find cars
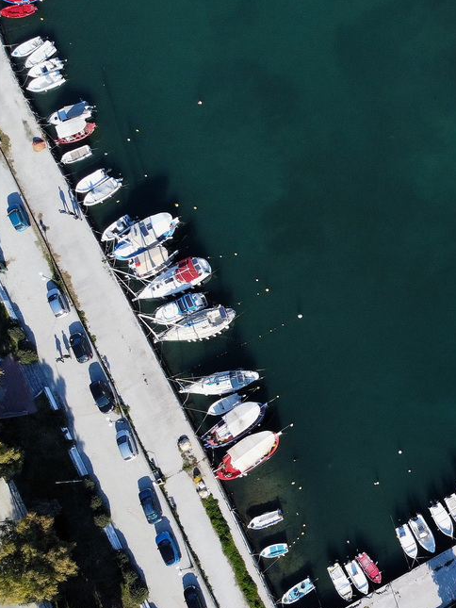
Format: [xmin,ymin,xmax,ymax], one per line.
[42,284,68,318]
[67,332,92,363]
[137,491,161,525]
[182,587,206,608]
[156,534,179,566]
[115,430,139,462]
[4,200,29,231]
[88,380,114,413]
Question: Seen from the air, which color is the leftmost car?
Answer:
blue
